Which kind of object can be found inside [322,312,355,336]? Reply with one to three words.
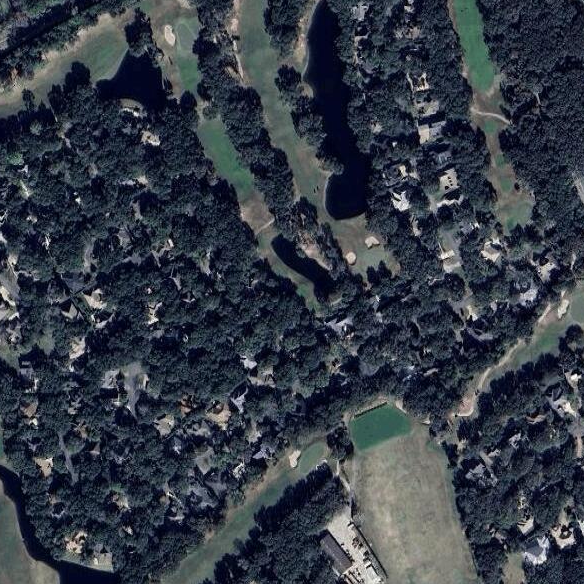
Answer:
house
